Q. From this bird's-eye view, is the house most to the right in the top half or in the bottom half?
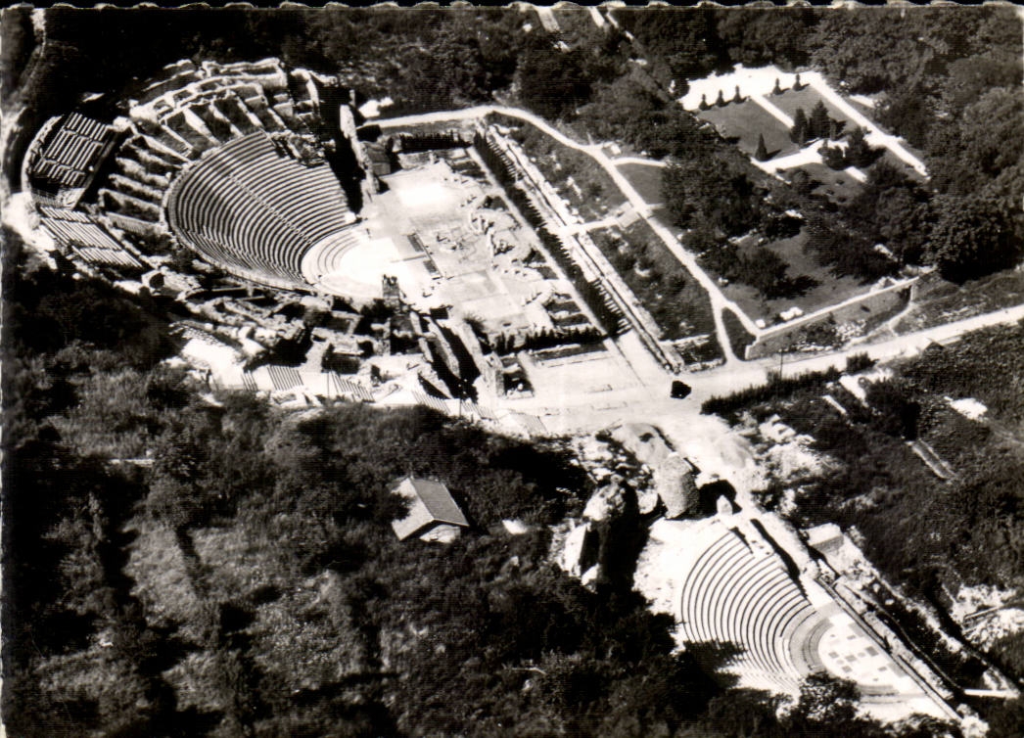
bottom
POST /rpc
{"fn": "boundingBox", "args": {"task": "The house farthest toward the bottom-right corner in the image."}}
[804,525,844,560]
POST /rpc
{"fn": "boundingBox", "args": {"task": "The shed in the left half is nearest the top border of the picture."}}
[360,117,381,143]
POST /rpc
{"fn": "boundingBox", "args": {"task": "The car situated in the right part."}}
[670,377,693,396]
